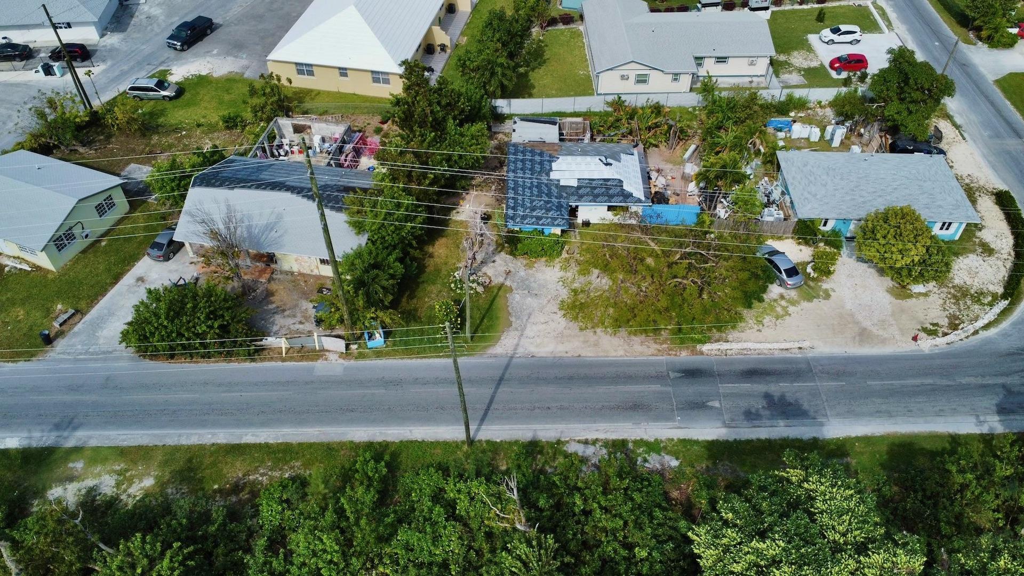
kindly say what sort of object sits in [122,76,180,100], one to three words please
vehicle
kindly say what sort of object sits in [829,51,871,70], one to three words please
car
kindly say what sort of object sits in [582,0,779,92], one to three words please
house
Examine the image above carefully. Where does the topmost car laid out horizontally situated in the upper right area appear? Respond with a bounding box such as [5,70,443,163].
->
[820,24,865,45]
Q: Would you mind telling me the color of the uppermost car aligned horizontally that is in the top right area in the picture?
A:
white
